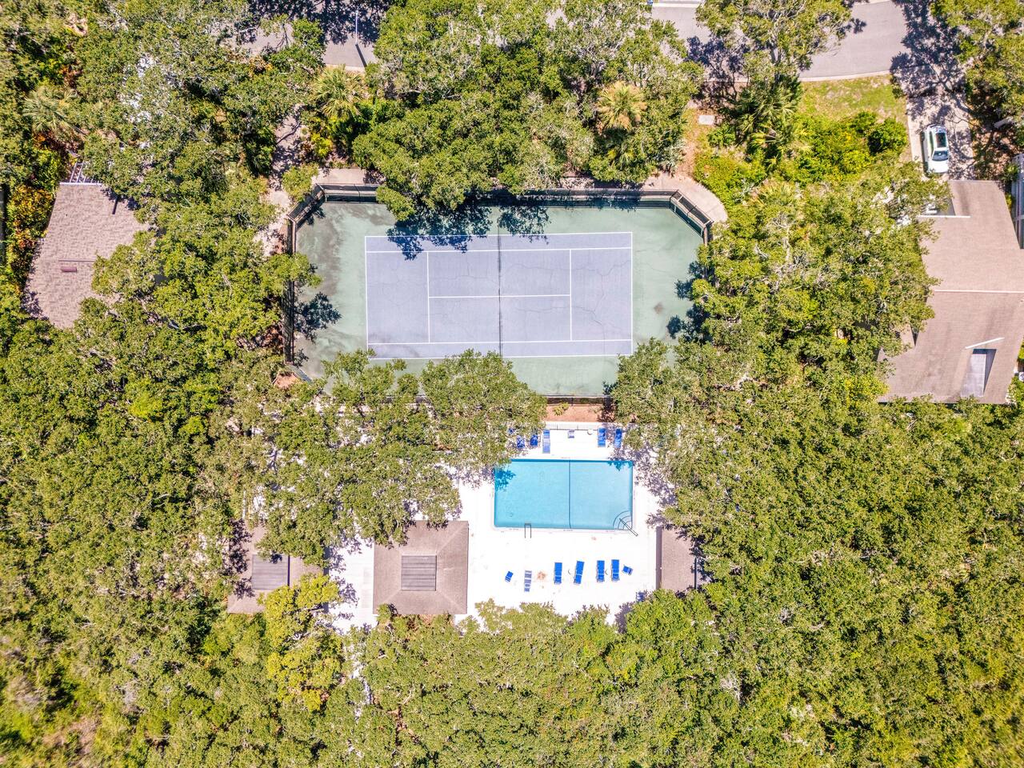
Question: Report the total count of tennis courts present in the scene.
1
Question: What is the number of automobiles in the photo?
one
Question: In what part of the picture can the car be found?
top right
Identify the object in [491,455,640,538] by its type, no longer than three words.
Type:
swimming pool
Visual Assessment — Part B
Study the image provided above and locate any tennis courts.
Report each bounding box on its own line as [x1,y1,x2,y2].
[288,188,708,402]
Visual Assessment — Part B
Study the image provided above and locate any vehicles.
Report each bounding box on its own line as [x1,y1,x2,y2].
[923,125,952,175]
